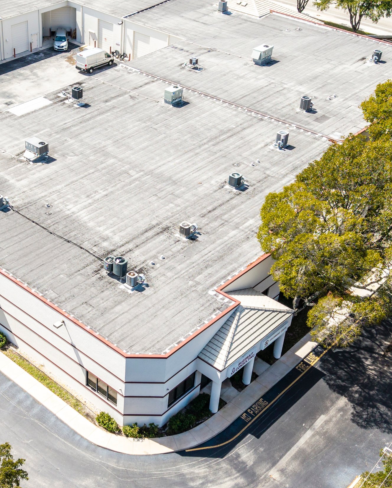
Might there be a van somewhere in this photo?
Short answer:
Yes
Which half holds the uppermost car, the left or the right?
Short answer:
left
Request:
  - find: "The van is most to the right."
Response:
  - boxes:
[72,44,116,73]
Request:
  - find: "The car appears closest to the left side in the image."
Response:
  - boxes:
[50,27,71,50]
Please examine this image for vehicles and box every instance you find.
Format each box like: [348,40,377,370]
[50,27,71,50]
[72,44,116,73]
